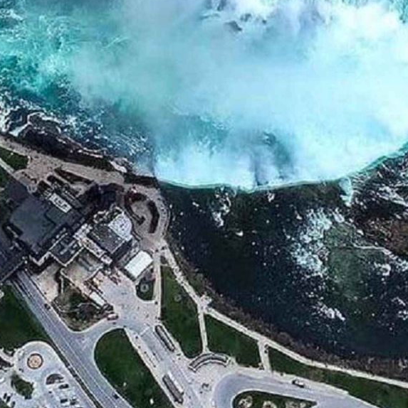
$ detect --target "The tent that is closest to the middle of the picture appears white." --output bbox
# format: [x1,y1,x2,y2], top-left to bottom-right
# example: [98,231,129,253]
[124,251,153,281]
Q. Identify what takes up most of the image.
water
